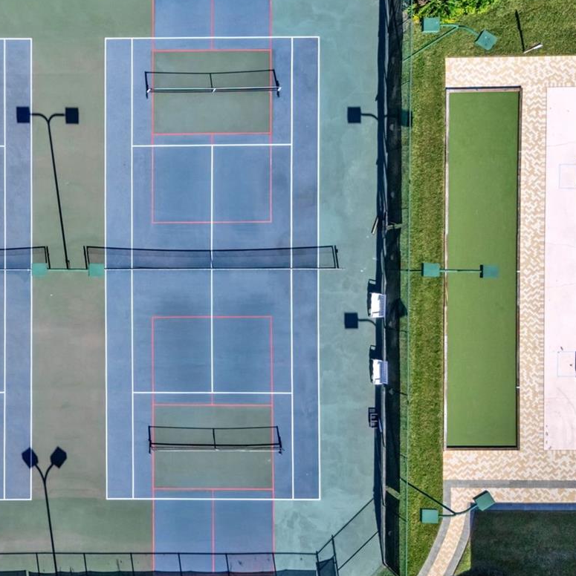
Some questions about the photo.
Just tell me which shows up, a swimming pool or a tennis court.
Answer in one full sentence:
This aerial view contains a tennis court.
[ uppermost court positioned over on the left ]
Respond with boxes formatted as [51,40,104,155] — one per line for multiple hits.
[152,0,272,223]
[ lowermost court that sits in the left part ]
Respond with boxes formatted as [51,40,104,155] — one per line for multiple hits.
[152,316,275,576]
